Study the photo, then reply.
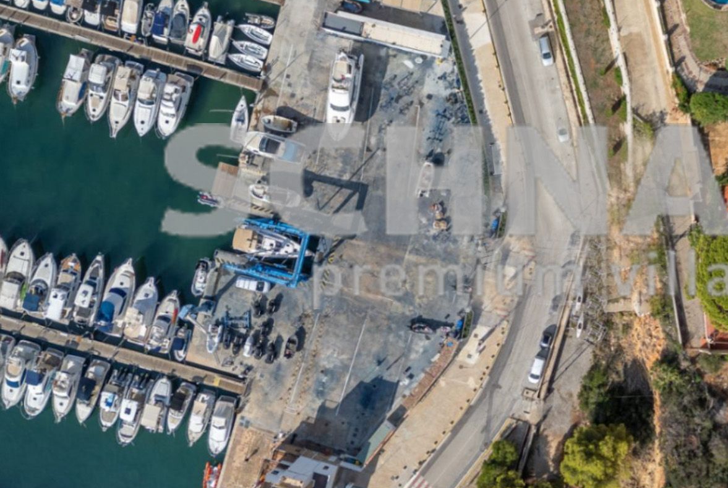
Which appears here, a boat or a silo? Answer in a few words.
boat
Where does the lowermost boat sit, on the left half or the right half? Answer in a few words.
left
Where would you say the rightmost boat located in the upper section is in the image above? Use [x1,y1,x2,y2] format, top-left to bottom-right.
[413,162,431,203]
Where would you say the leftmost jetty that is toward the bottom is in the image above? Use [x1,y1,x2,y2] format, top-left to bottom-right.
[0,315,244,394]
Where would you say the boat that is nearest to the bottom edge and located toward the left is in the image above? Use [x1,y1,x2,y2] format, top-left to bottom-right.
[202,455,225,488]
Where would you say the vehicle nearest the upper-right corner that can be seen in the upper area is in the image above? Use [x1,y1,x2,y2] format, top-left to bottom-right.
[536,33,553,66]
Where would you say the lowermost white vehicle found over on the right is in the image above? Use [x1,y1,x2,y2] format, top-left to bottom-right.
[525,354,546,390]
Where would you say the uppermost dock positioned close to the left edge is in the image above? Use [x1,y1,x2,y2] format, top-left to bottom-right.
[0,3,261,89]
